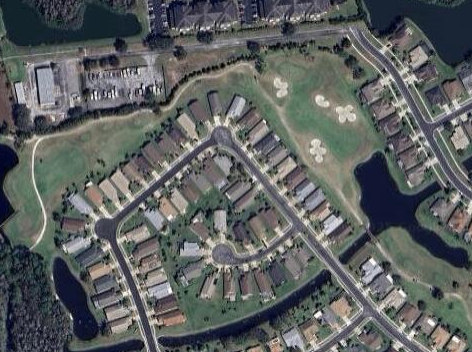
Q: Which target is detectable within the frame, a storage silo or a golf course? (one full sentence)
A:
It is a golf course that can be seen here.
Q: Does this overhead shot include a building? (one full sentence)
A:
Yes, a building can be made out from above.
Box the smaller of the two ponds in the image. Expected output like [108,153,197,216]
[52,257,99,339]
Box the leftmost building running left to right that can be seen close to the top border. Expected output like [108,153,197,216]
[171,0,238,31]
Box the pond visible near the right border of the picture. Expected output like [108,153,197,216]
[356,152,468,268]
